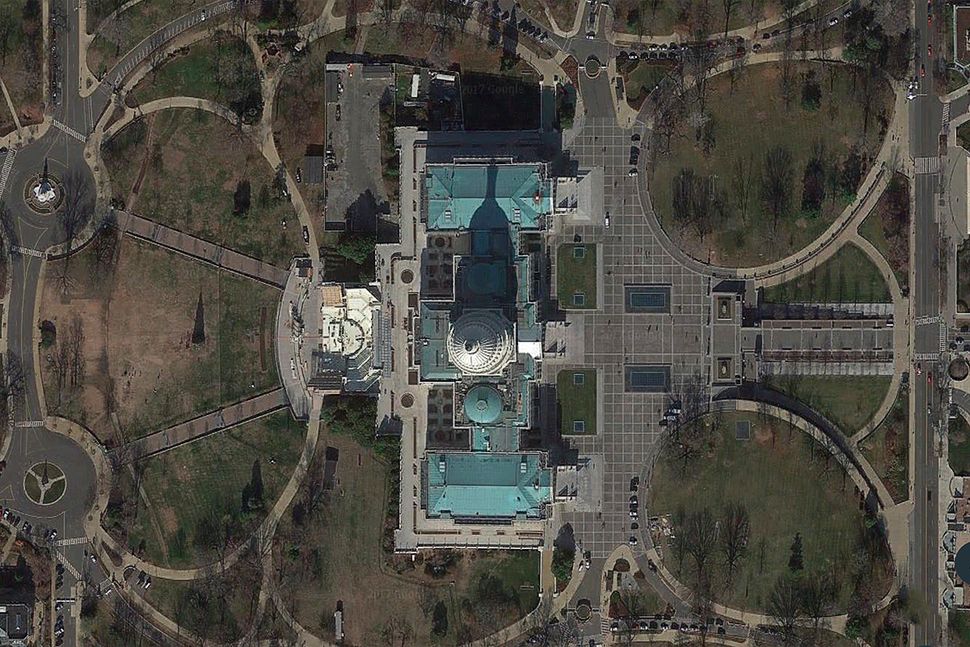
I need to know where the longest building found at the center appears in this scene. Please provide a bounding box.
[411,156,591,525]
